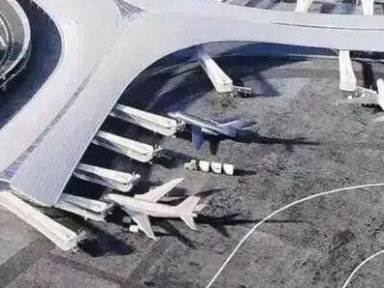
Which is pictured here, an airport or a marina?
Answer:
airport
